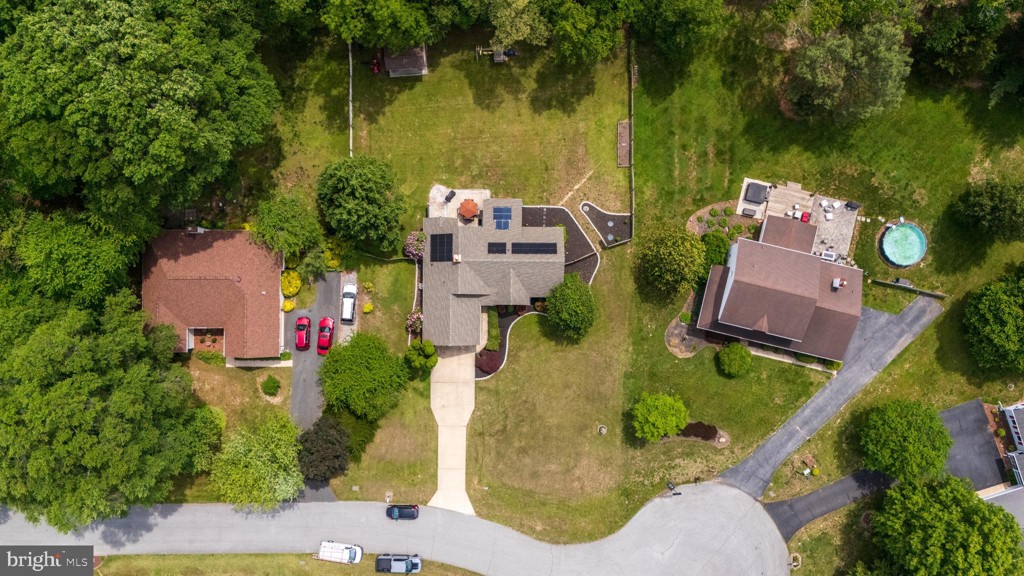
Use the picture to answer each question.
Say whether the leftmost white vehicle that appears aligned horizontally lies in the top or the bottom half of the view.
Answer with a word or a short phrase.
bottom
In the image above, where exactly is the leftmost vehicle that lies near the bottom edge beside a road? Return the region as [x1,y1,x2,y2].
[315,540,362,564]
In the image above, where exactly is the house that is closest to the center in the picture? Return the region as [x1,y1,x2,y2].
[422,198,565,346]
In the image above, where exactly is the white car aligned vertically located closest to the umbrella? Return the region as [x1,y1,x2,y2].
[341,284,360,325]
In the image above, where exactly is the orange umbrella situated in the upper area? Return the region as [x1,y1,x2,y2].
[460,199,477,219]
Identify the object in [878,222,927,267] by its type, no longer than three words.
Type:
swimming pool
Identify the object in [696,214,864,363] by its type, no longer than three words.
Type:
house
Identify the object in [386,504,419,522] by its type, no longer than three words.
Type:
car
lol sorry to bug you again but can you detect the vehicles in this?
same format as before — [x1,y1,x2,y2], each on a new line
[386,504,419,522]
[341,284,360,325]
[315,540,362,564]
[374,554,421,576]
[317,316,335,355]
[294,315,313,350]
